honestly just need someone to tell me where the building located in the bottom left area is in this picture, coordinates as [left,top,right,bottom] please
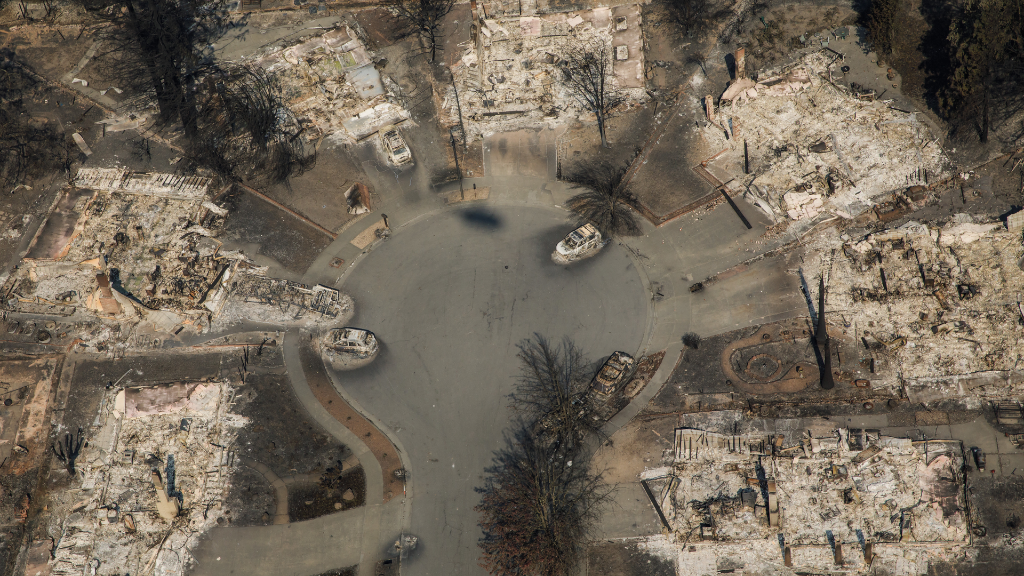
[37,372,263,576]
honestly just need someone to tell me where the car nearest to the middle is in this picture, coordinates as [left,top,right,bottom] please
[548,220,611,266]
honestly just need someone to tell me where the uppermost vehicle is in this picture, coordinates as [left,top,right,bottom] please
[377,124,416,173]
